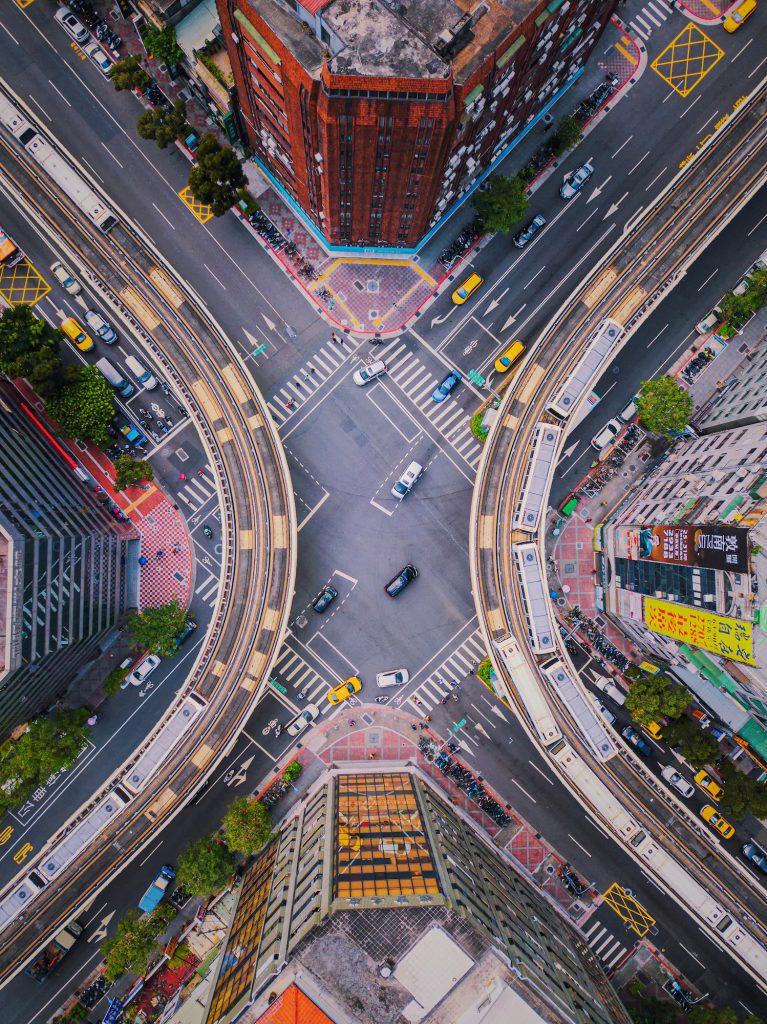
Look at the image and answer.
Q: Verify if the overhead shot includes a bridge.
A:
Yes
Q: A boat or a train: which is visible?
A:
train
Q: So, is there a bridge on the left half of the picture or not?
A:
Yes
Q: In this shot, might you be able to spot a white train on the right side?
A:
Yes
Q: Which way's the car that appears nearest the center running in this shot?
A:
at an angle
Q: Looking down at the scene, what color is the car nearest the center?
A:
white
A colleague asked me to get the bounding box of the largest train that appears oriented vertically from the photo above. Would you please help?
[508,318,622,761]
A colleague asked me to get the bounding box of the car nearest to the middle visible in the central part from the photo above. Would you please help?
[388,458,426,499]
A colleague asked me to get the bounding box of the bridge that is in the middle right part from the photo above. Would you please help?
[469,77,767,988]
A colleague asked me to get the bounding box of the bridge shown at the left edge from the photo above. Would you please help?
[0,77,296,988]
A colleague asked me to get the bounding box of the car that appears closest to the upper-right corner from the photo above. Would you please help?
[720,0,761,36]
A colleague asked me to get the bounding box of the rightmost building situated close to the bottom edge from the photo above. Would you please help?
[200,765,645,1024]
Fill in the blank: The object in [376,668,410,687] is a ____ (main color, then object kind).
white car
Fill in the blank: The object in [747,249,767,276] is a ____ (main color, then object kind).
gray car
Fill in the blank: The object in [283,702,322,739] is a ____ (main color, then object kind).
white car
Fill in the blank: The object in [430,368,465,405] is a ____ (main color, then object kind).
blue car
